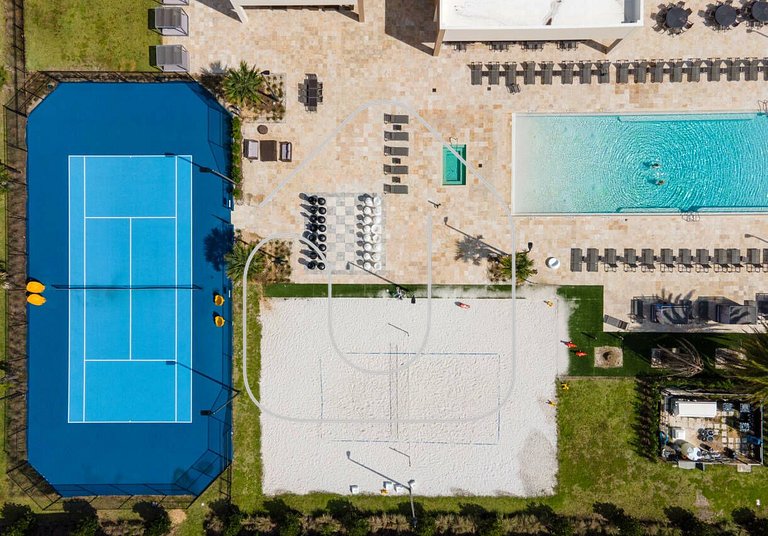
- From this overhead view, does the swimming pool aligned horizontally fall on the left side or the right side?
right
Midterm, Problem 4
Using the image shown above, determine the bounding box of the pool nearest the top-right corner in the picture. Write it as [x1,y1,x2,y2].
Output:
[512,107,768,218]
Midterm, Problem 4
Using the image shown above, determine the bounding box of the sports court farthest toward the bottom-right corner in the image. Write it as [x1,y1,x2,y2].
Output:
[258,297,560,498]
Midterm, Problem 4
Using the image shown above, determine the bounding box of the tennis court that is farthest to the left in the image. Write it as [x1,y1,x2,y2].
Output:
[26,82,232,496]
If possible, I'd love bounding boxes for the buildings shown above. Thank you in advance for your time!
[230,0,364,22]
[434,0,646,55]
